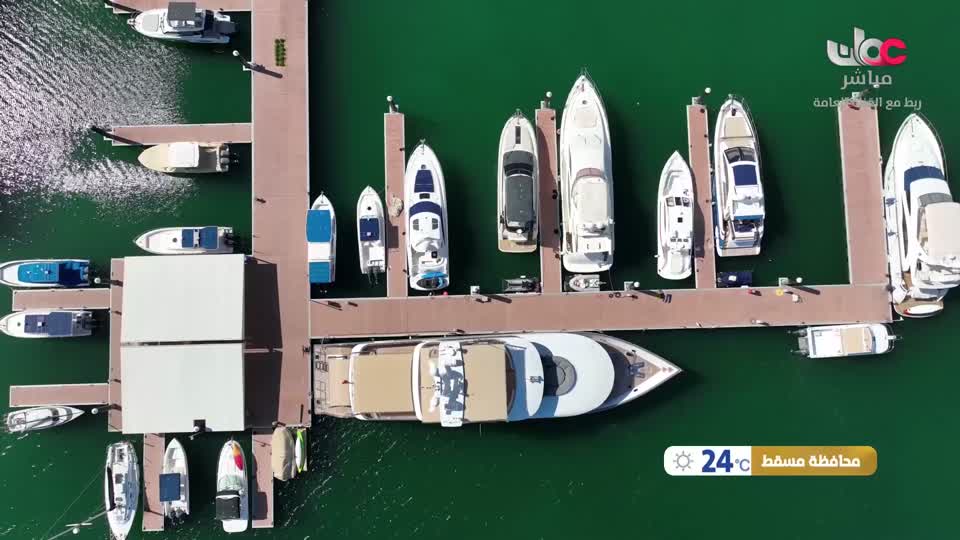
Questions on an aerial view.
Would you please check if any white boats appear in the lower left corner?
Yes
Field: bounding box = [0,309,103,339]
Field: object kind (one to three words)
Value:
boat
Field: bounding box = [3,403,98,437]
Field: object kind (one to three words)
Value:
boat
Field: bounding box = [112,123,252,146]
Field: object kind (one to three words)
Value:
pier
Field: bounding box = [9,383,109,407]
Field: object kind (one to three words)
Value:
pier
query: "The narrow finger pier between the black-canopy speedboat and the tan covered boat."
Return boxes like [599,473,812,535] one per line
[251,432,274,527]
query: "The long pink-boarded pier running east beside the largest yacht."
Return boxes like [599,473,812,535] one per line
[310,284,889,338]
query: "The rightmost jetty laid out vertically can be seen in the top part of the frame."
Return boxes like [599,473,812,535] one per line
[836,105,883,284]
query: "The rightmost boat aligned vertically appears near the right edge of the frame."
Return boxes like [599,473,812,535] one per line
[869,111,960,322]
